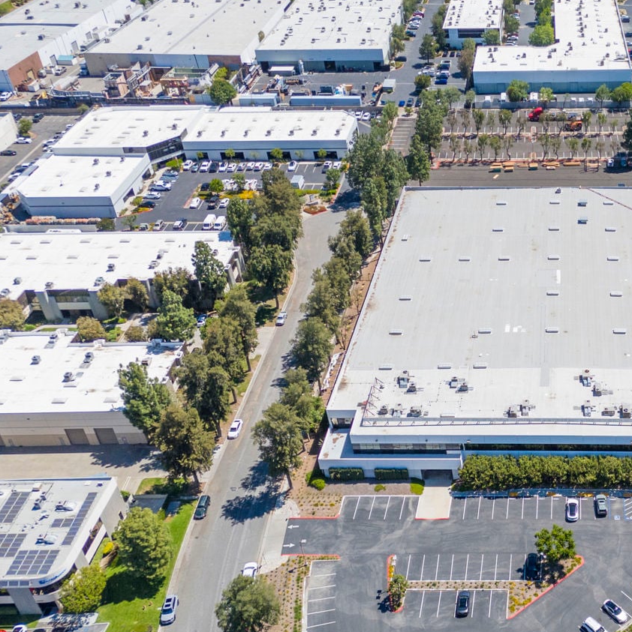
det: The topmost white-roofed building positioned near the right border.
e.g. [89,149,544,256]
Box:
[473,0,631,93]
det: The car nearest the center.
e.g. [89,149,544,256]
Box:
[276,310,288,325]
